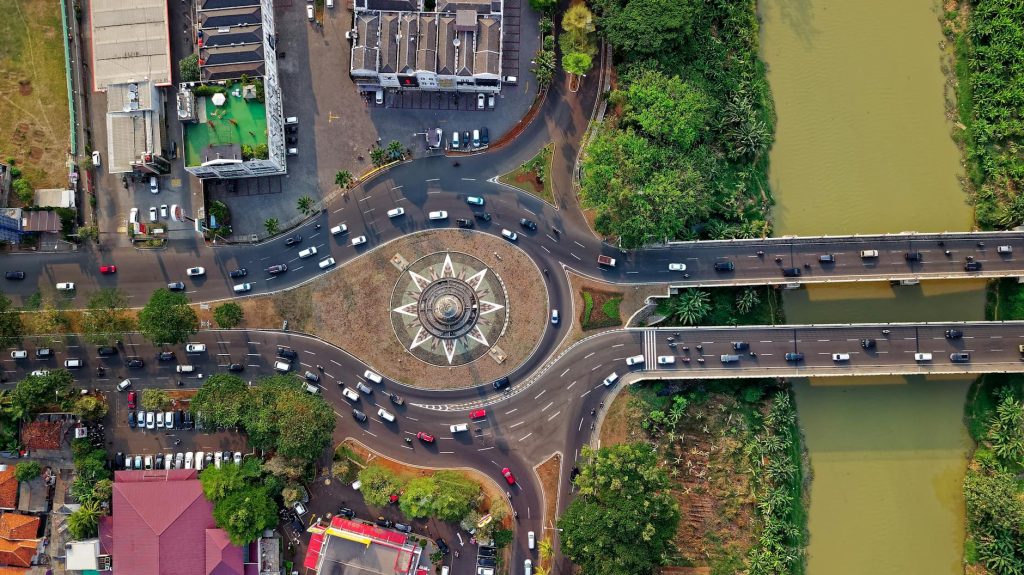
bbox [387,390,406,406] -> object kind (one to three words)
vehicle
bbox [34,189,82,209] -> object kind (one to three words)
shed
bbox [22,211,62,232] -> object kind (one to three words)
building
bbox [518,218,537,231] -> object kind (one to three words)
vehicle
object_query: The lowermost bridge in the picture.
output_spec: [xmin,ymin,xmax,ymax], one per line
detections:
[626,320,1024,380]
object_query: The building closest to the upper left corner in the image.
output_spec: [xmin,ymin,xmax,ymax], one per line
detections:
[92,0,171,92]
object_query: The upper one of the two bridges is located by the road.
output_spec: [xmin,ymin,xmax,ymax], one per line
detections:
[664,231,1024,290]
